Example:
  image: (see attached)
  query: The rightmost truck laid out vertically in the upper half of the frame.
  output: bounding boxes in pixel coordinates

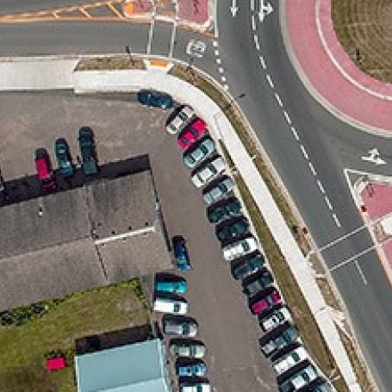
[76,128,98,176]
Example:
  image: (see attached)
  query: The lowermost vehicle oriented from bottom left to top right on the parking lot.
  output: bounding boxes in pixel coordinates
[276,362,319,392]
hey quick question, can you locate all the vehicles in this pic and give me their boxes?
[155,279,186,295]
[257,323,302,355]
[177,379,214,392]
[174,118,208,151]
[76,128,98,176]
[229,254,265,279]
[169,341,205,359]
[247,288,283,314]
[170,236,190,270]
[303,381,327,392]
[191,157,225,185]
[163,103,196,136]
[176,360,208,377]
[163,318,197,335]
[271,346,308,374]
[137,89,172,109]
[33,152,56,188]
[276,362,319,392]
[206,197,241,222]
[200,177,235,204]
[152,296,187,314]
[235,268,279,299]
[220,237,260,261]
[53,140,74,177]
[257,306,292,332]
[214,218,250,241]
[181,138,215,167]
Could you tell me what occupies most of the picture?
paved ground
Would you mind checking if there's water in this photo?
No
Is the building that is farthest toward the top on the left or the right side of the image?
left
